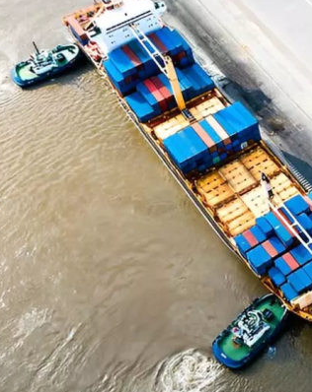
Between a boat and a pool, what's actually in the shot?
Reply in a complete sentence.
Of the two, only a boat appears.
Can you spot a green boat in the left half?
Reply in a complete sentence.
No, the scene shows no green boat in the left half.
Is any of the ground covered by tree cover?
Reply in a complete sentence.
No, no tree cover is visible.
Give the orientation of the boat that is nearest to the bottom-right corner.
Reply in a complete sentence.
From this overhead view, the boat that is nearest to the bottom-right corner appears to run on a diagonal.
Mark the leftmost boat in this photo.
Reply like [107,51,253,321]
[2,42,81,88]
